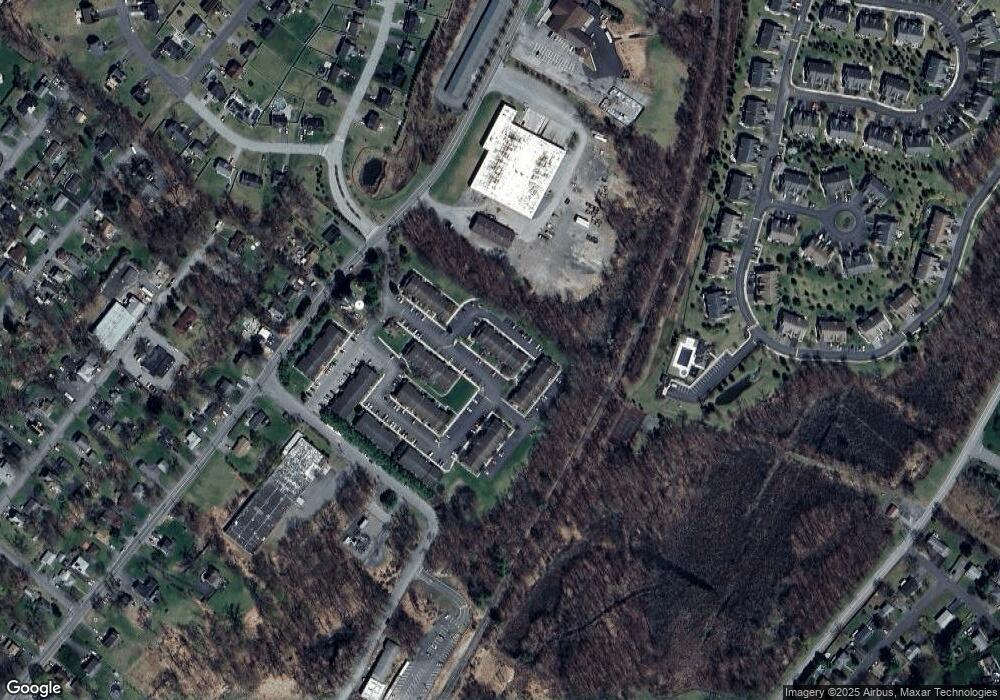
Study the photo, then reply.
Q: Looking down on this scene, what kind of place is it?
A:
residential area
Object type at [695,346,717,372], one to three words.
building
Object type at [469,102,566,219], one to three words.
building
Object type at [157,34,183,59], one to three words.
house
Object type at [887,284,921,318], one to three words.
house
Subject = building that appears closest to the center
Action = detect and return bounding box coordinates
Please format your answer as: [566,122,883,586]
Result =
[471,321,530,375]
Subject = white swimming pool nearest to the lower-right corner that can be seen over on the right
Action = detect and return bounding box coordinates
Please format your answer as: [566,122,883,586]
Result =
[673,337,696,377]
